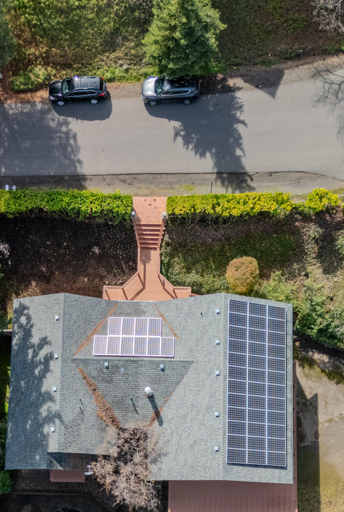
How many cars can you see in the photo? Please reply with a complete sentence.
Altogether the scene contains 2 cars.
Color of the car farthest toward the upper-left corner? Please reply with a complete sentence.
The car farthest toward the upper-left corner is black.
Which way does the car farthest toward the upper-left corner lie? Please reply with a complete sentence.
The car farthest toward the upper-left corner has been laid out from side to side relative to the frame.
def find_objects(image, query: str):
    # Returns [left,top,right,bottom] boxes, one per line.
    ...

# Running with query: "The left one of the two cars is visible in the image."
[47,78,108,111]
